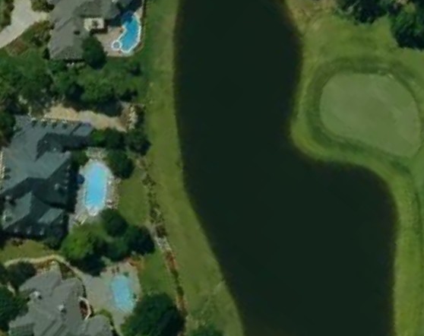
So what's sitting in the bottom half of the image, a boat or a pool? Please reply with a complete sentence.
You can see a pool in the bottom half of the image.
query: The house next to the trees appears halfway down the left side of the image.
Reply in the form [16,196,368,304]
[0,114,91,237]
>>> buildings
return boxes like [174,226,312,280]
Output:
[0,114,91,237]
[45,0,141,59]
[6,258,114,336]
